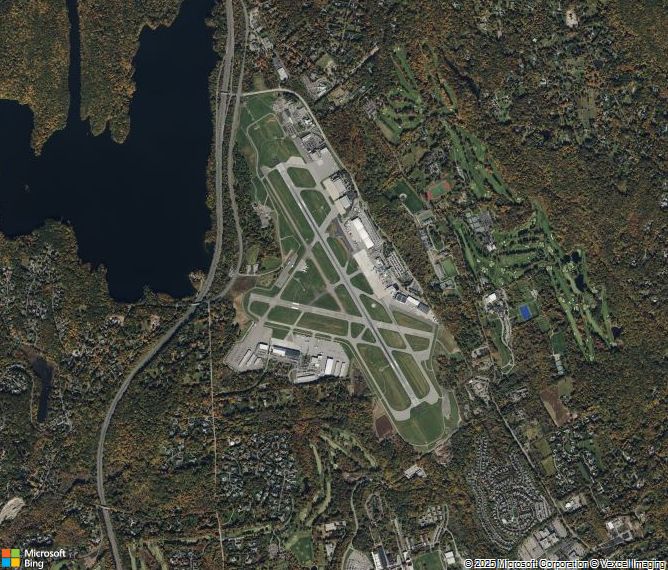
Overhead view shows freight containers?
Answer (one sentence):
No, the picture doesn't show any freight container.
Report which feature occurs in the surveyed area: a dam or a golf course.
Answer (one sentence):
I can see a golf course in this picture.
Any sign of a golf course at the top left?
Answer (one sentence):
No, looking at the top left, there is no golf course.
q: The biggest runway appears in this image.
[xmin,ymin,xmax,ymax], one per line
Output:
[277,162,421,405]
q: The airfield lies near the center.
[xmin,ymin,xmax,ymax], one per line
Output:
[223,91,460,453]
